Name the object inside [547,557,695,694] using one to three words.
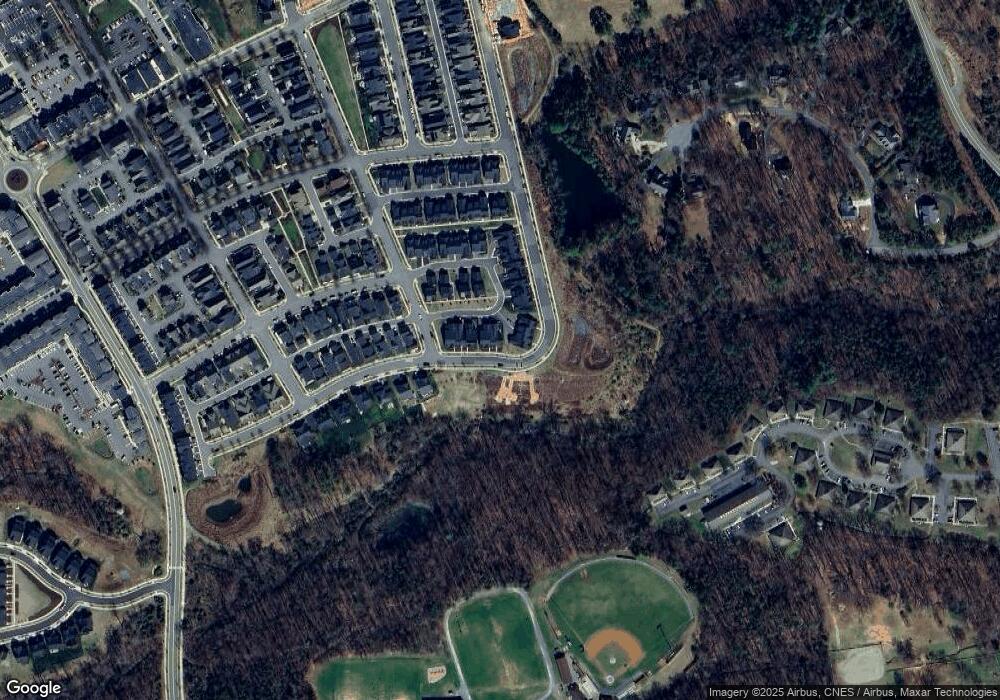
baseball field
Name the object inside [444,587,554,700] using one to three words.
sports field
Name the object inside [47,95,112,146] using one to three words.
building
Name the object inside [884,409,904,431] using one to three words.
house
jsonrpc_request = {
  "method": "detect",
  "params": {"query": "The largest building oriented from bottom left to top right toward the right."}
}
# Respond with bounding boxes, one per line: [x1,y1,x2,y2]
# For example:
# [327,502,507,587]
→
[706,482,771,534]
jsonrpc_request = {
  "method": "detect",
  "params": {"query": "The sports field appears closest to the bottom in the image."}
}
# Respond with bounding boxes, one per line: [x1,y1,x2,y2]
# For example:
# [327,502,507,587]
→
[312,655,423,700]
